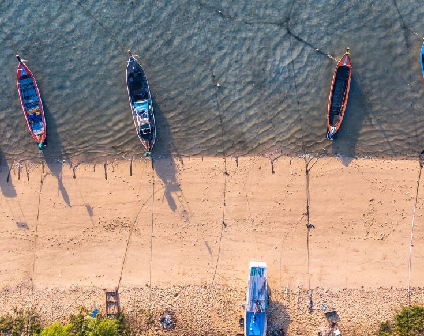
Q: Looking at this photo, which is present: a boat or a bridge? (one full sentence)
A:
The one in the frame is a boat.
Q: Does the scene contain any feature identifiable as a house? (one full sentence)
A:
No, no house is visible in the view.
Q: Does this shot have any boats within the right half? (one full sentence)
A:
Yes, there is a boat within the right half.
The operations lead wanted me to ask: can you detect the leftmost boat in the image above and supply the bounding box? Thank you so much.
[14,56,48,160]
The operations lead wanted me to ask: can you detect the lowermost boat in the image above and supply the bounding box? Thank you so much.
[243,261,267,336]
